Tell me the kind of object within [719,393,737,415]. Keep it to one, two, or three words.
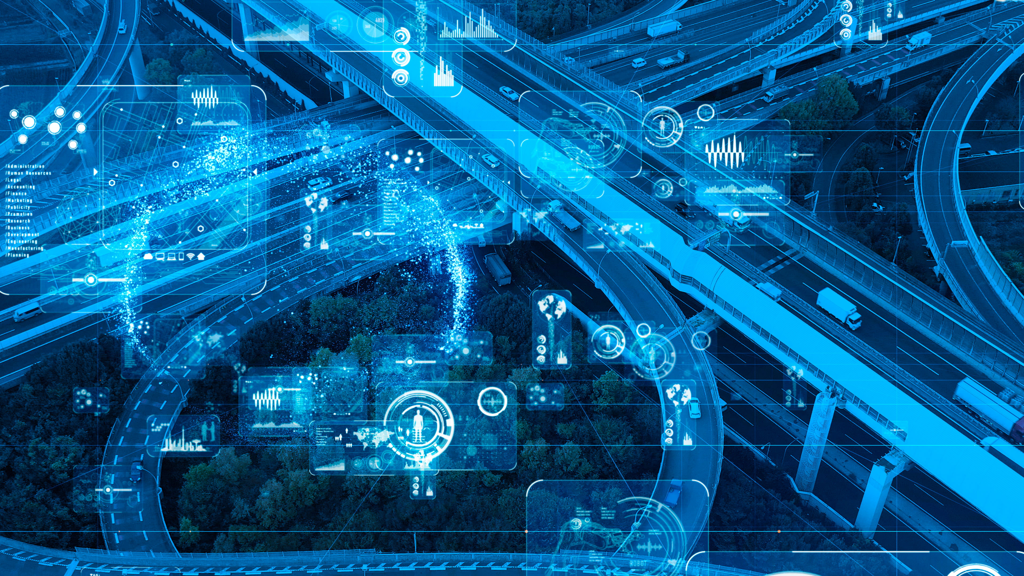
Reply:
vehicle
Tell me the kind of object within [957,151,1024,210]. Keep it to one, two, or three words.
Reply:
building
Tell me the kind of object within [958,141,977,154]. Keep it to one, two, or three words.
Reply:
vehicle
